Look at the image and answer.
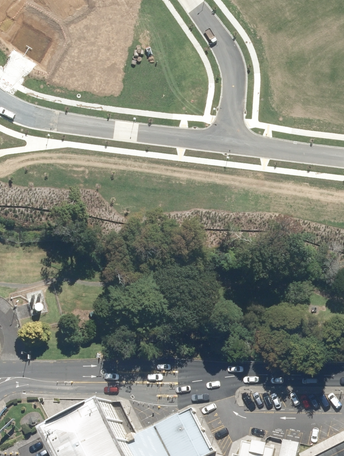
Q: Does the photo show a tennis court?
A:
No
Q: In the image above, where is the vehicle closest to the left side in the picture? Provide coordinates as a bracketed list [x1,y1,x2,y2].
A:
[0,107,15,119]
